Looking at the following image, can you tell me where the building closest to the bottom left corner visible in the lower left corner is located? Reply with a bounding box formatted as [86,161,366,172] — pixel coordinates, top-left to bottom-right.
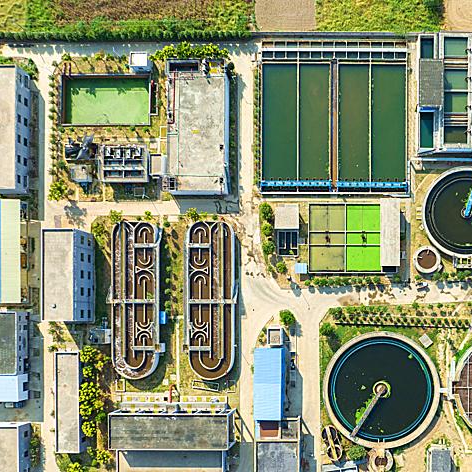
[0,421,31,472]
